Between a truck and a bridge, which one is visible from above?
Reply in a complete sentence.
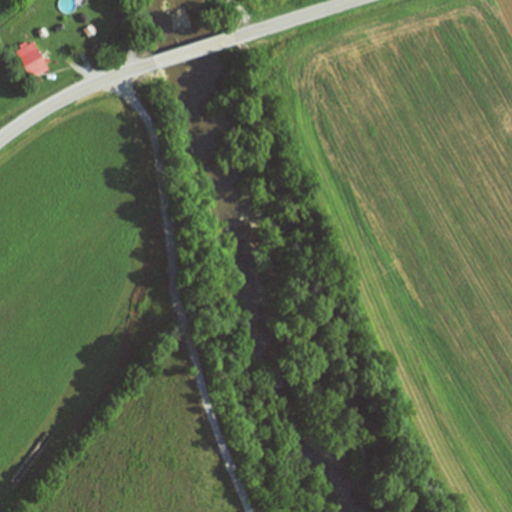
Visible in the photo is a bridge.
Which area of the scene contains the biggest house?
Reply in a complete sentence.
The biggest house is located in the top left region of the scene.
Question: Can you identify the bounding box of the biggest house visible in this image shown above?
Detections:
[16,42,50,77]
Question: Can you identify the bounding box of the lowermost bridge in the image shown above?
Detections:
[150,32,236,70]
